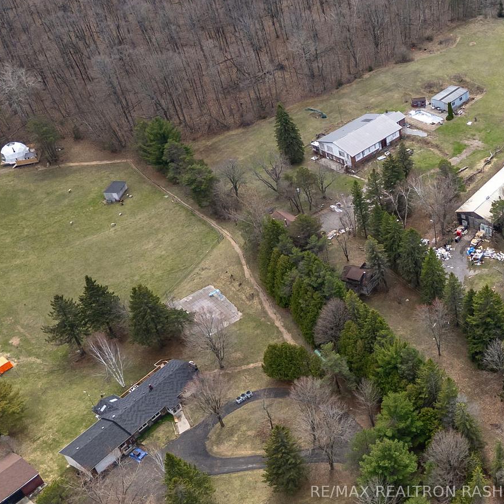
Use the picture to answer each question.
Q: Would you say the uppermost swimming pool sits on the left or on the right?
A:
right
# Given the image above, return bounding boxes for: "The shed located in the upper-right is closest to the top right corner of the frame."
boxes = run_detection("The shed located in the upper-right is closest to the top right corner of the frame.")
[436,85,469,109]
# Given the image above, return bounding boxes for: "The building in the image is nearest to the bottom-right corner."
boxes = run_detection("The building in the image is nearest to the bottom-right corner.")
[340,259,380,300]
